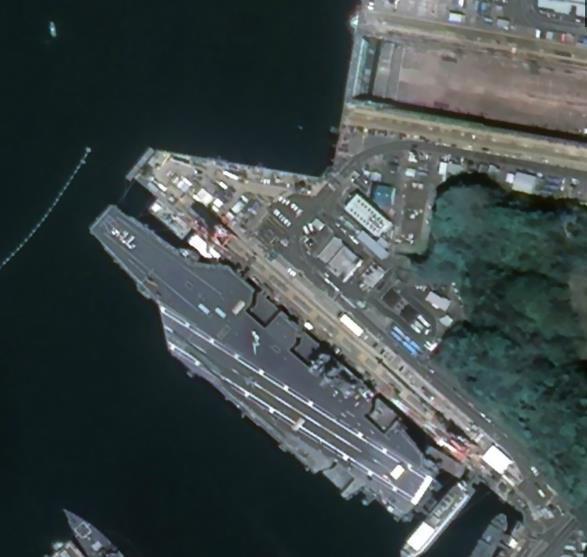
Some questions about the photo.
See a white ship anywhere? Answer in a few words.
Yes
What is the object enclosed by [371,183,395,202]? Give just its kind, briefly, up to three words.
building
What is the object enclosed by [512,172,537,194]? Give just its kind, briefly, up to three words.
building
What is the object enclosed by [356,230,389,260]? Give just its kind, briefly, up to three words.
shed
